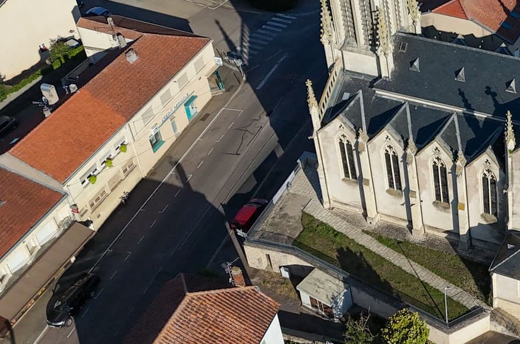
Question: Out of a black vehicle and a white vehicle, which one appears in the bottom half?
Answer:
black vehicle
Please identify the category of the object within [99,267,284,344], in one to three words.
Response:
house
